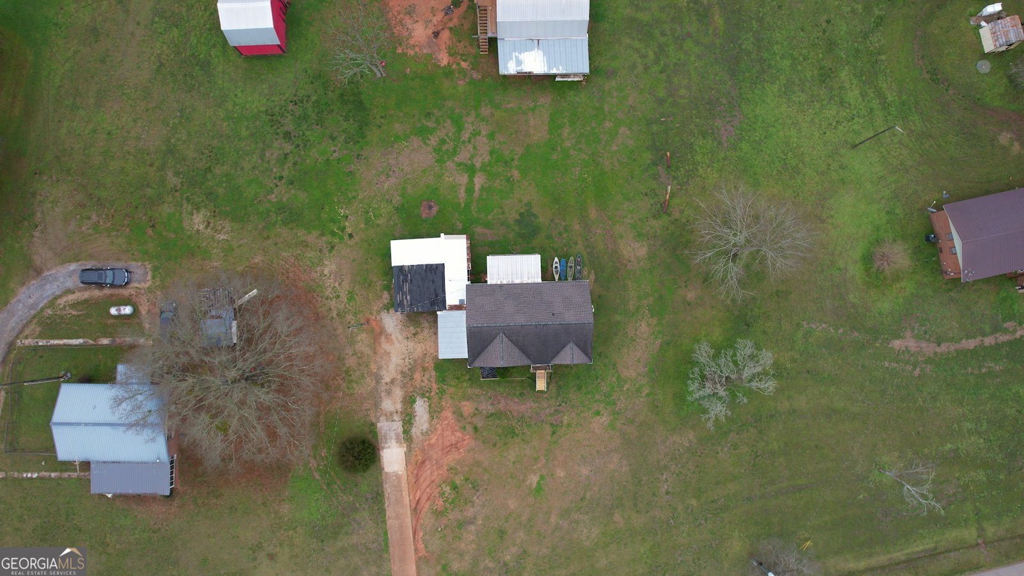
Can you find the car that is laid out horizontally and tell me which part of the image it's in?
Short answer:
left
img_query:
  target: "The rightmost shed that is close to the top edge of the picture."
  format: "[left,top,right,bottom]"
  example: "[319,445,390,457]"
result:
[980,15,1024,53]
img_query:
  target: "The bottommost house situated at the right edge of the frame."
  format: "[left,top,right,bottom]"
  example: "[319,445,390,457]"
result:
[942,190,1024,282]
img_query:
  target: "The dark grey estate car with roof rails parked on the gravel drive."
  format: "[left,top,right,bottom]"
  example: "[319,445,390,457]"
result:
[78,266,133,288]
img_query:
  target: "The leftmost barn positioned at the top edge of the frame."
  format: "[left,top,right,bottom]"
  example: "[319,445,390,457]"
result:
[215,0,291,53]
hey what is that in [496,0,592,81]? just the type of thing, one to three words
house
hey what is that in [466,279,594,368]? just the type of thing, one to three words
house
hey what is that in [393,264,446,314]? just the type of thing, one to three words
shed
